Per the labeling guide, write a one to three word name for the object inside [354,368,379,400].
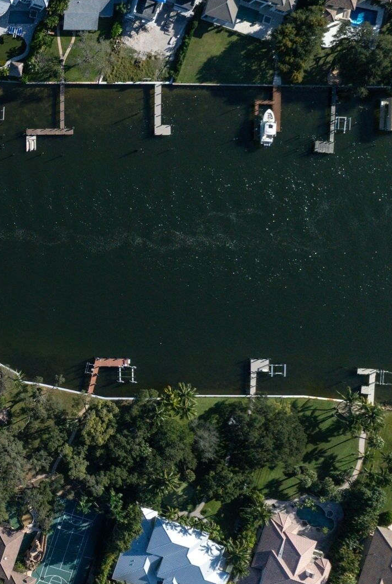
pier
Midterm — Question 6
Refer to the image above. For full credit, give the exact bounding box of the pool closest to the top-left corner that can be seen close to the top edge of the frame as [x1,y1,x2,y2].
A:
[7,10,39,25]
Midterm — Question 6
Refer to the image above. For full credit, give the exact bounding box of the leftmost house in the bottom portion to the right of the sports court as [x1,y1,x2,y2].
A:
[111,507,229,584]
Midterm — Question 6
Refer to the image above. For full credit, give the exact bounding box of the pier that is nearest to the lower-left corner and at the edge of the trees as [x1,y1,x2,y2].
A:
[89,358,131,395]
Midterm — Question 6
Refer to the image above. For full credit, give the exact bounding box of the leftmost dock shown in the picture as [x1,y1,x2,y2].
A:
[25,84,73,136]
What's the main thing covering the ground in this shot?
water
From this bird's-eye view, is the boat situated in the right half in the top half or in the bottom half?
top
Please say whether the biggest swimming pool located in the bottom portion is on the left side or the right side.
right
